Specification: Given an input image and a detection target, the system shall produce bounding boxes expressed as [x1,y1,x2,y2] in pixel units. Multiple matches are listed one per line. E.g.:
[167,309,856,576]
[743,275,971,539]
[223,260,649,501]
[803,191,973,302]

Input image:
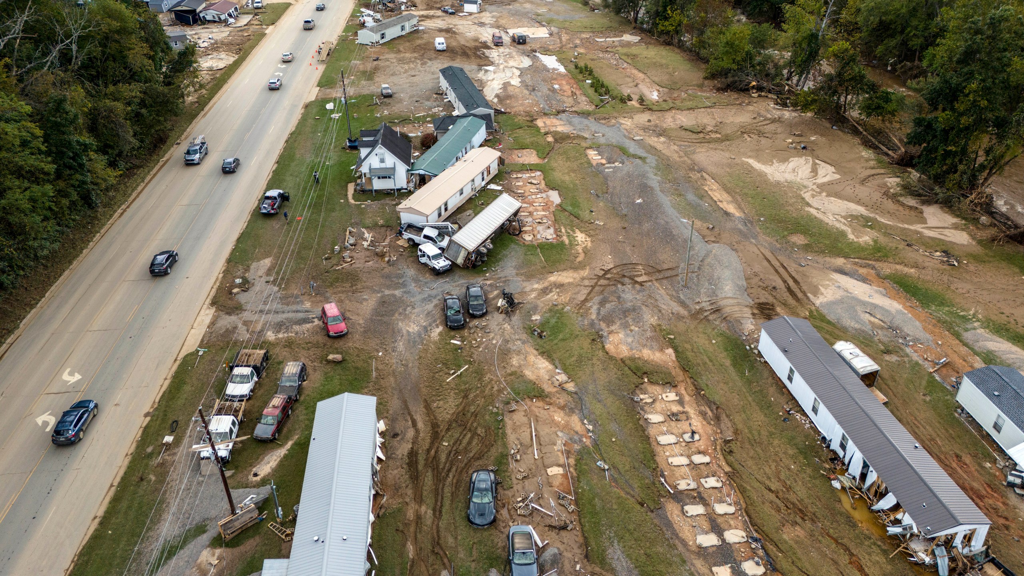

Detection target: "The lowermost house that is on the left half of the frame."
[286,391,391,576]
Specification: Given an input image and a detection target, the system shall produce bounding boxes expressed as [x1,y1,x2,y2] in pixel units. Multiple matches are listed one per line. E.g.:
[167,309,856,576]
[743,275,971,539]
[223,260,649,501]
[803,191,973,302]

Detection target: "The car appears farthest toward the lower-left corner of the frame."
[49,399,98,446]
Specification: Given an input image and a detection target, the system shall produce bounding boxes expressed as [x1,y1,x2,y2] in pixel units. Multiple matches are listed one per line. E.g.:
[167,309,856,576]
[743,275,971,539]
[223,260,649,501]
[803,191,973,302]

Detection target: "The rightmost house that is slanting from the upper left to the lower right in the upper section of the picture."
[437,65,496,131]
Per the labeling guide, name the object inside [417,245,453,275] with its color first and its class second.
white car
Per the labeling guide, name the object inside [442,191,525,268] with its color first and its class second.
white trailer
